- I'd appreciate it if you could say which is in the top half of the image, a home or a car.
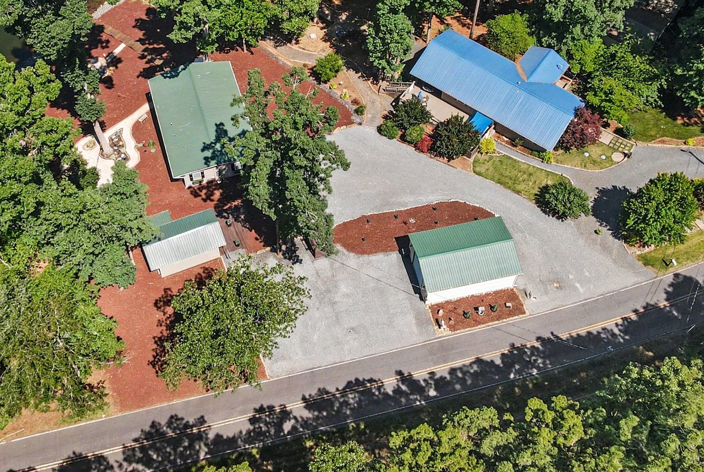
home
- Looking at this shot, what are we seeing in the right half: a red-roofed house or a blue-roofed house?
blue-roofed house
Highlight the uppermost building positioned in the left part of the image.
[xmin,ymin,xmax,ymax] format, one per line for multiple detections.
[148,56,259,188]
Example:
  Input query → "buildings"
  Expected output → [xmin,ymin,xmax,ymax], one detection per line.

[410,217,523,302]
[142,209,227,278]
[410,29,585,156]
[148,56,259,188]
